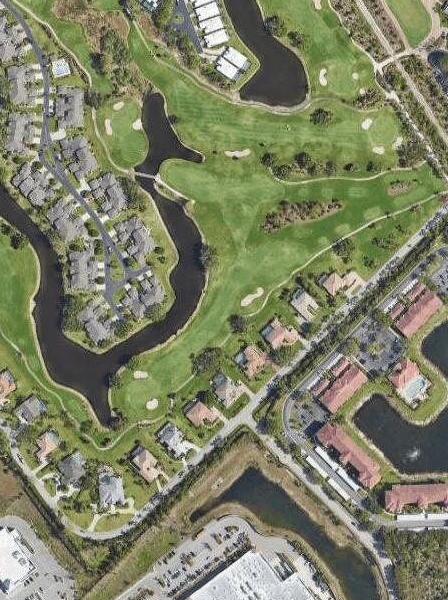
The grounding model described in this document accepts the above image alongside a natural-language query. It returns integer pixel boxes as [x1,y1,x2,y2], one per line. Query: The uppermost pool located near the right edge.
[399,371,433,404]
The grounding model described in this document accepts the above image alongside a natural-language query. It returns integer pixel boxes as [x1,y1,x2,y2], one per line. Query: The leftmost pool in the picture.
[53,60,70,76]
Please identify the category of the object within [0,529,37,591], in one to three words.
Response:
building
